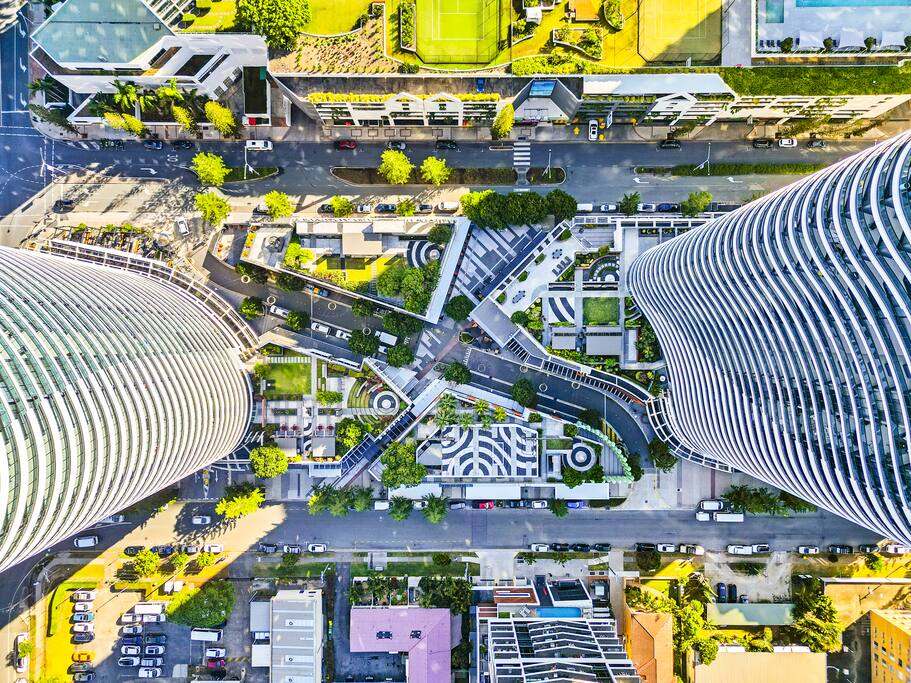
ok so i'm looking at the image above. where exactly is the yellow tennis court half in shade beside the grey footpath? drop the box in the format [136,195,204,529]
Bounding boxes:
[639,0,728,62]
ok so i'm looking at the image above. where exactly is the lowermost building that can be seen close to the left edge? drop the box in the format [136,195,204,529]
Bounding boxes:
[0,245,244,572]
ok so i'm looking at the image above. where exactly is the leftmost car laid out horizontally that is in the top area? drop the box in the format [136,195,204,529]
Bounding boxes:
[54,199,77,212]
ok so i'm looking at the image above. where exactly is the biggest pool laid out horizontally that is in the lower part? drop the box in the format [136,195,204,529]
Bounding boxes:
[533,606,582,618]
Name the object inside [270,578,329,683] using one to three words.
building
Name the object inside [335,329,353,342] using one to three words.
vehicle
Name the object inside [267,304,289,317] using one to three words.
vehicle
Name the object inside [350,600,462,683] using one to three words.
house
